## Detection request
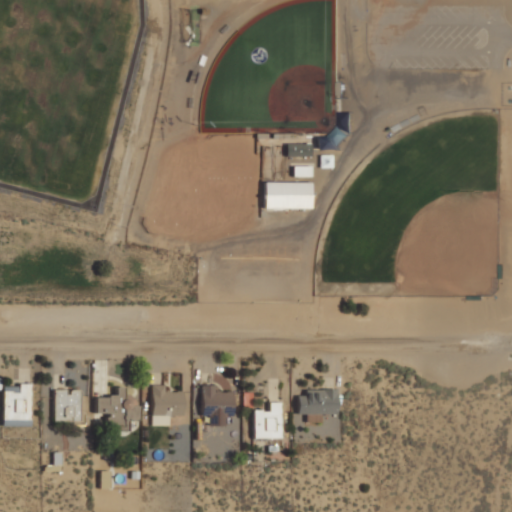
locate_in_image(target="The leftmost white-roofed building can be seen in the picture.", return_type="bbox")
[4,384,32,426]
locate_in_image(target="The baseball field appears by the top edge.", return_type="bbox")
[199,0,336,132]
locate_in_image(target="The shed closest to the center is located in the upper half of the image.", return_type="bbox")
[266,182,315,209]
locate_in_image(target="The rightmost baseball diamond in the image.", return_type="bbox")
[316,109,498,296]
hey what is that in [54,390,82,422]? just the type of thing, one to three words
house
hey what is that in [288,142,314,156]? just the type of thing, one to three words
shed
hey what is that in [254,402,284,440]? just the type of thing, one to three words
house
